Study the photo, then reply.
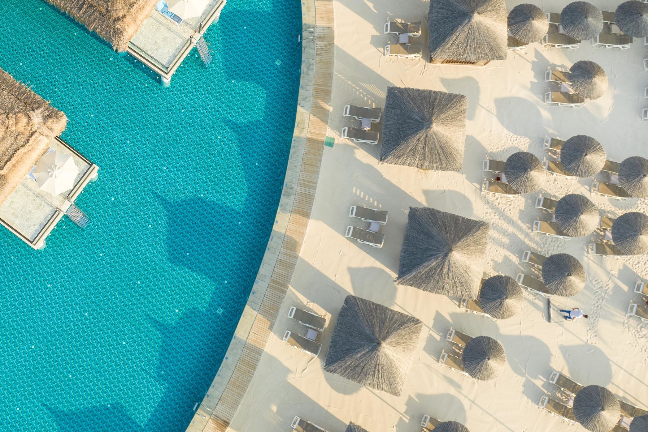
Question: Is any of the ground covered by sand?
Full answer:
Yes, there's sand in this view.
